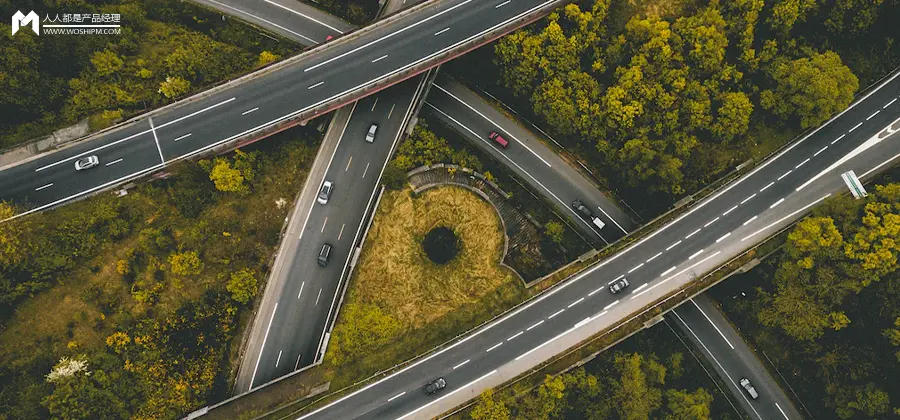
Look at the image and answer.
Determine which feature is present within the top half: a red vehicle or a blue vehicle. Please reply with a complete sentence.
What appears within the top half is a red vehicle.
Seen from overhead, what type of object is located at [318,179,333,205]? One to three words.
car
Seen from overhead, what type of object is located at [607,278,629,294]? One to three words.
car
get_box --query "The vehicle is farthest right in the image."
[739,377,758,399]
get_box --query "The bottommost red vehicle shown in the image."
[488,131,510,148]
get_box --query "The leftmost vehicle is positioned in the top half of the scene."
[76,155,101,170]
